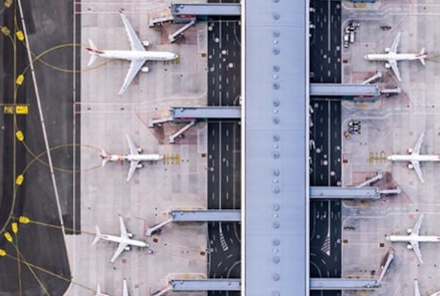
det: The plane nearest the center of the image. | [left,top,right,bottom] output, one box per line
[101,132,163,184]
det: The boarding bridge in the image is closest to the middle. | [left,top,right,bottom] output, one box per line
[168,120,196,144]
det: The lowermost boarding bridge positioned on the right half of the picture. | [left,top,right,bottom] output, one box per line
[377,251,394,284]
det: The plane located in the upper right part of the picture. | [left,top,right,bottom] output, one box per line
[364,28,429,81]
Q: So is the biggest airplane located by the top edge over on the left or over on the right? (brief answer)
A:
left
